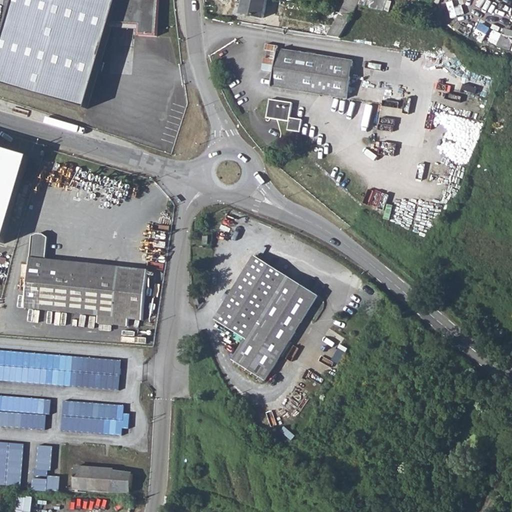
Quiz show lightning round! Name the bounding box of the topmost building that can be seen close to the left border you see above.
[0,0,119,110]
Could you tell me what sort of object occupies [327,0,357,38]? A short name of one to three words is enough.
shed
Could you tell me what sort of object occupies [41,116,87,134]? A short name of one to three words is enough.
vehicle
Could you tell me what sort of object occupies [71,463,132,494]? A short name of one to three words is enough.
barn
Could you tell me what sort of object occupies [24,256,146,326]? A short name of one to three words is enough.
building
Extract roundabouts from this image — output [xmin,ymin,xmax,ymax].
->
[212,156,246,190]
